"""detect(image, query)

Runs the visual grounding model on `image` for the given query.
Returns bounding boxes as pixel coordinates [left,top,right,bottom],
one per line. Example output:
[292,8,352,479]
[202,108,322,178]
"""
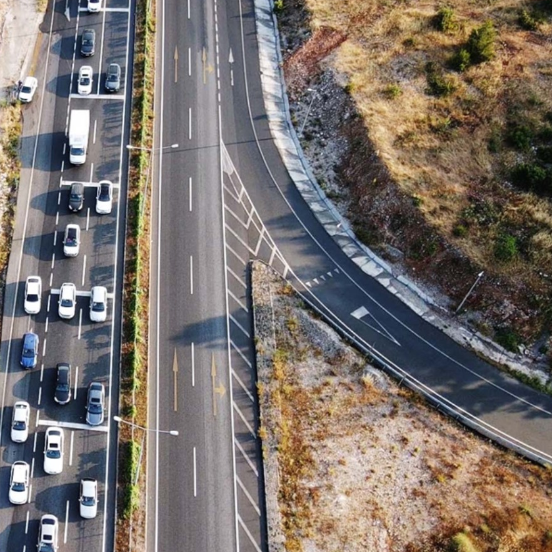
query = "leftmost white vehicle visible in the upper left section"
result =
[16,77,39,103]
